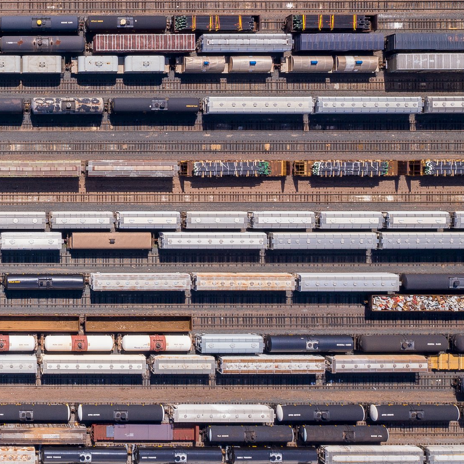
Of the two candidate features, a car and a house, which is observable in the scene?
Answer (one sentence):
There is a car in the scene.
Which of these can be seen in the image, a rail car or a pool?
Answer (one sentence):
Of the two, only a rail car appears.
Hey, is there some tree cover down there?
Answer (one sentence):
No, no tree cover is visible.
